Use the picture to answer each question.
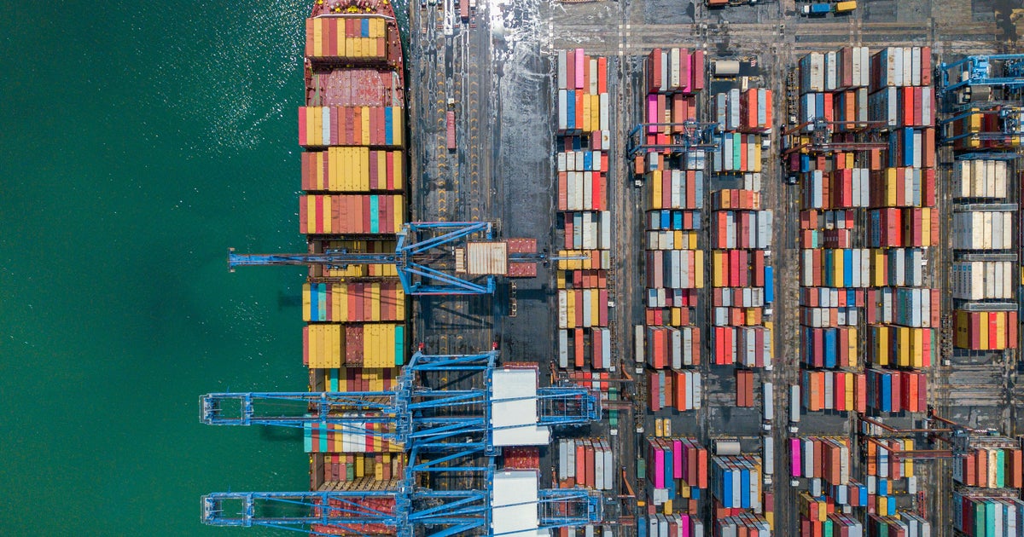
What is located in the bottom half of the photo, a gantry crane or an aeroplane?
gantry crane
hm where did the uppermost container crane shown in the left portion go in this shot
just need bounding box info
[228,212,589,299]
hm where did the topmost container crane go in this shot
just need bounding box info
[941,54,1024,101]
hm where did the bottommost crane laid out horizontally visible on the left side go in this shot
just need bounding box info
[202,422,603,537]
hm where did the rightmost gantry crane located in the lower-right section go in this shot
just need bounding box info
[859,408,973,457]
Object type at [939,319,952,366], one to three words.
vehicle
